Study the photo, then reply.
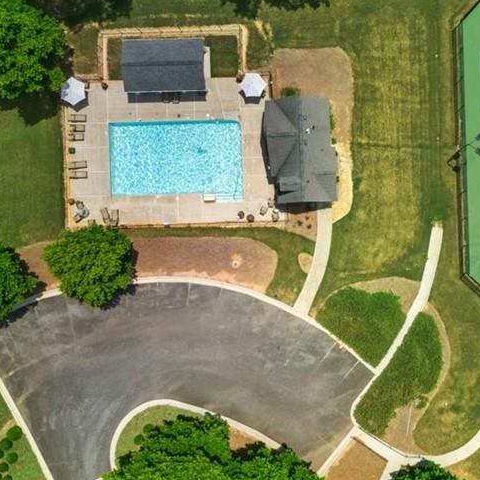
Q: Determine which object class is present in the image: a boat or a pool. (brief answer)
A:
pool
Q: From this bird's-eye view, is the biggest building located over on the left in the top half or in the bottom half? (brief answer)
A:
top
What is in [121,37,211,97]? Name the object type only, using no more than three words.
building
